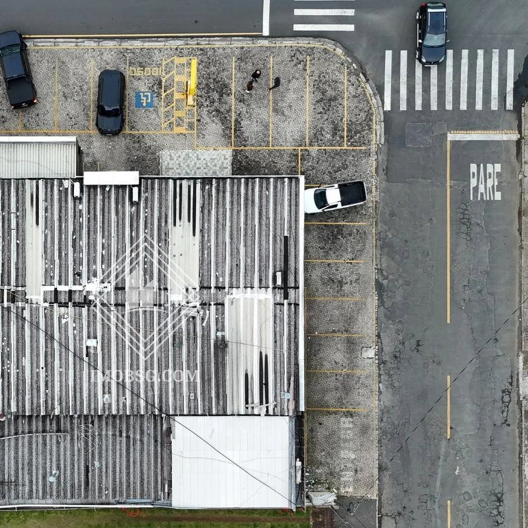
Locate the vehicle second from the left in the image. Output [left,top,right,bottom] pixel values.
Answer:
[95,69,127,137]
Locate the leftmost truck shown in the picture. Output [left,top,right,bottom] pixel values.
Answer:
[0,32,36,111]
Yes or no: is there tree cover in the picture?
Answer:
No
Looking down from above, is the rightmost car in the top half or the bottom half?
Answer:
top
